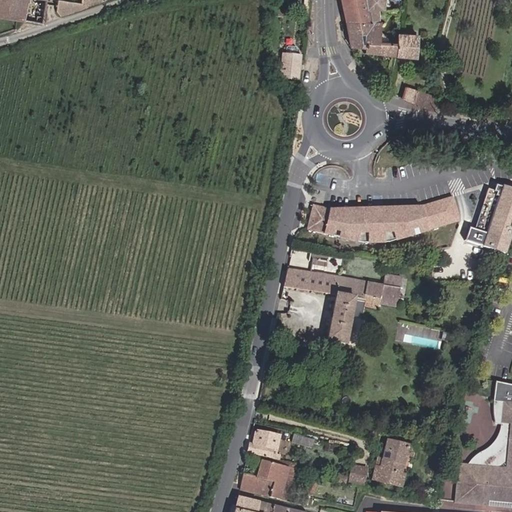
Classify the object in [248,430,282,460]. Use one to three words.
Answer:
house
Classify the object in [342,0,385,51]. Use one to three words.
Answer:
building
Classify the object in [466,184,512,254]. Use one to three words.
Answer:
building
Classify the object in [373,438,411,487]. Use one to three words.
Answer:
house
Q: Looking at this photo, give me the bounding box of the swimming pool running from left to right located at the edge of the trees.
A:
[396,323,442,350]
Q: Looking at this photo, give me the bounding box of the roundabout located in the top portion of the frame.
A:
[323,96,366,140]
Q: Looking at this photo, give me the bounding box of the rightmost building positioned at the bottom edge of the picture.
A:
[455,384,512,506]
